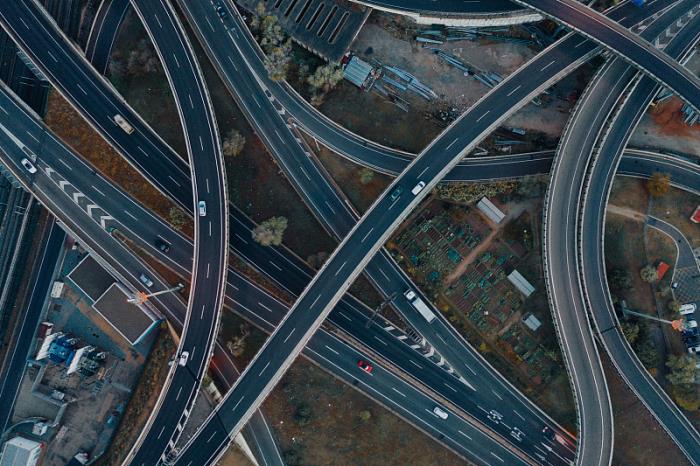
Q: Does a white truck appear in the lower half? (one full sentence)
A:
Yes, there is a white truck in the lower half.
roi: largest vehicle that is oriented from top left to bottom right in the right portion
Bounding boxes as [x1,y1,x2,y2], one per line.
[405,289,438,323]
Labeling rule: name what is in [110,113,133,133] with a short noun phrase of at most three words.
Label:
vehicle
